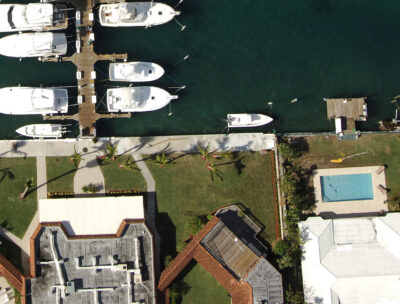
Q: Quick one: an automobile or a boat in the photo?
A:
boat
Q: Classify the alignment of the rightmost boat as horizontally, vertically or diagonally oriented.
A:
horizontally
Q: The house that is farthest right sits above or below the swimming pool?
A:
below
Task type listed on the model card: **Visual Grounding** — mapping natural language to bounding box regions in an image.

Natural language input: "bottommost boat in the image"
[7,123,67,137]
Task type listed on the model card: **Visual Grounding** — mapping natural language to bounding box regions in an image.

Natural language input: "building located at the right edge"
[297,213,400,304]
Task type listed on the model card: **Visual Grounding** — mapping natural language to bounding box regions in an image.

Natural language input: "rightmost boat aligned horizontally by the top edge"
[96,0,183,29]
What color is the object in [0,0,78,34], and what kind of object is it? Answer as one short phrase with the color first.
white boat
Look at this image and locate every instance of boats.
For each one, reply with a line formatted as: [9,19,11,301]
[96,0,183,29]
[0,0,78,34]
[99,61,179,84]
[223,103,274,128]
[7,123,67,137]
[0,81,82,116]
[0,27,72,58]
[96,85,184,113]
